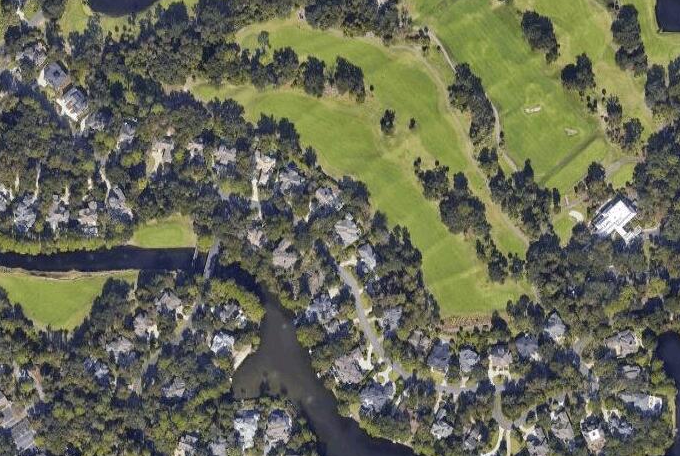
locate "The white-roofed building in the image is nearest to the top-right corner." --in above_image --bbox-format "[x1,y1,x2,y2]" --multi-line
[593,197,646,240]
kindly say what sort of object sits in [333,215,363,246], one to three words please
house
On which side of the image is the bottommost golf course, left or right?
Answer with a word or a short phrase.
left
